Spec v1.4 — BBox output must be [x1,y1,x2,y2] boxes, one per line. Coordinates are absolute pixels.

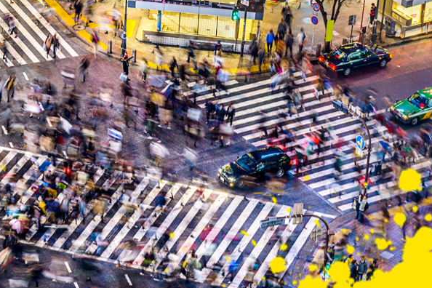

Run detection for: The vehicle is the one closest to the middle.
[215,140,296,184]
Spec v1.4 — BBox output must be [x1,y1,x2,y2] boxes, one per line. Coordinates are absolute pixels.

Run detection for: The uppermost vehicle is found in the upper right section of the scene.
[312,44,390,78]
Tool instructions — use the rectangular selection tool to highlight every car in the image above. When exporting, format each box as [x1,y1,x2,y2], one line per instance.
[215,140,296,184]
[389,87,432,125]
[312,44,390,78]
